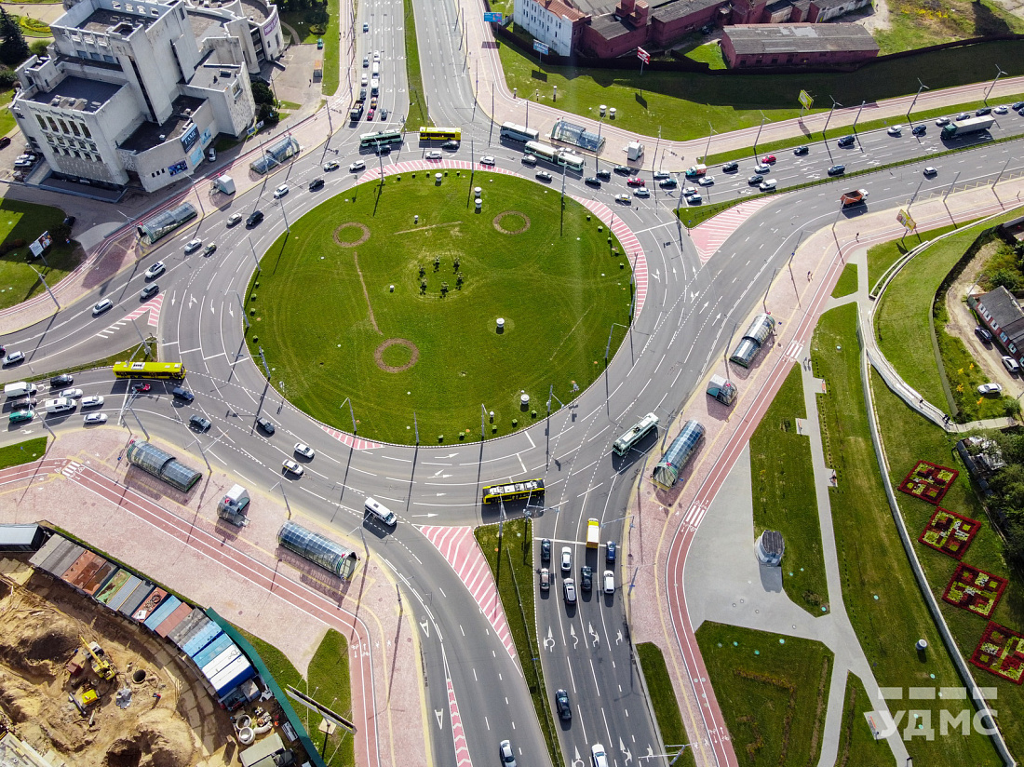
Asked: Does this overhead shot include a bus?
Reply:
Yes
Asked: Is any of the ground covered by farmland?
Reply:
No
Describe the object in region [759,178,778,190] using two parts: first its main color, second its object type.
white vehicle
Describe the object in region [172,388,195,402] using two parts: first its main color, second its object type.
blue car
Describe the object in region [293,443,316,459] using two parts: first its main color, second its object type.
white car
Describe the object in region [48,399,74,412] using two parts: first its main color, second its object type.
white vehicle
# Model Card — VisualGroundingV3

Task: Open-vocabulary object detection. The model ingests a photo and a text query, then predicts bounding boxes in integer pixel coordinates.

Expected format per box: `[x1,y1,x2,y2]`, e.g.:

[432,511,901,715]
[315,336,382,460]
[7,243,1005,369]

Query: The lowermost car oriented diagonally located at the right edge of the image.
[999,356,1021,373]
